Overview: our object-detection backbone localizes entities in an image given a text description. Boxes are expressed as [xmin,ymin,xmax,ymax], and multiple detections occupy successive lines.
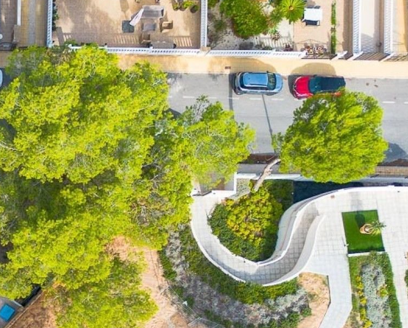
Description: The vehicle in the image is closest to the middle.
[231,67,280,97]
